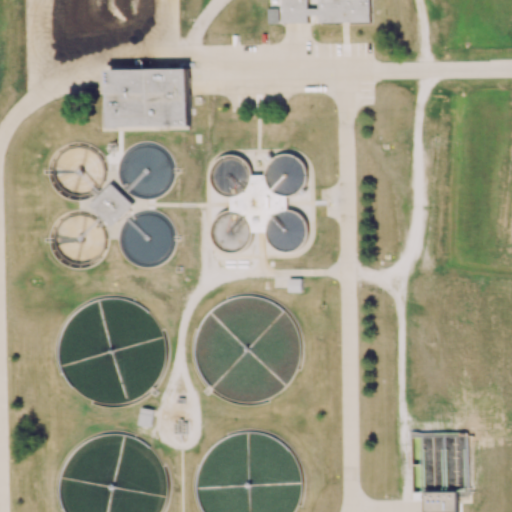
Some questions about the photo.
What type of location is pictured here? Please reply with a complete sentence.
The area seen from above is an industrial area.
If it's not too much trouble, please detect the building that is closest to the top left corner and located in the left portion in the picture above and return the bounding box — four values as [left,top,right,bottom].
[102,68,190,129]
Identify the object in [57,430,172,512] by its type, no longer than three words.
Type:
storage tank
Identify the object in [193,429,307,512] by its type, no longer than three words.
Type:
storage tank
